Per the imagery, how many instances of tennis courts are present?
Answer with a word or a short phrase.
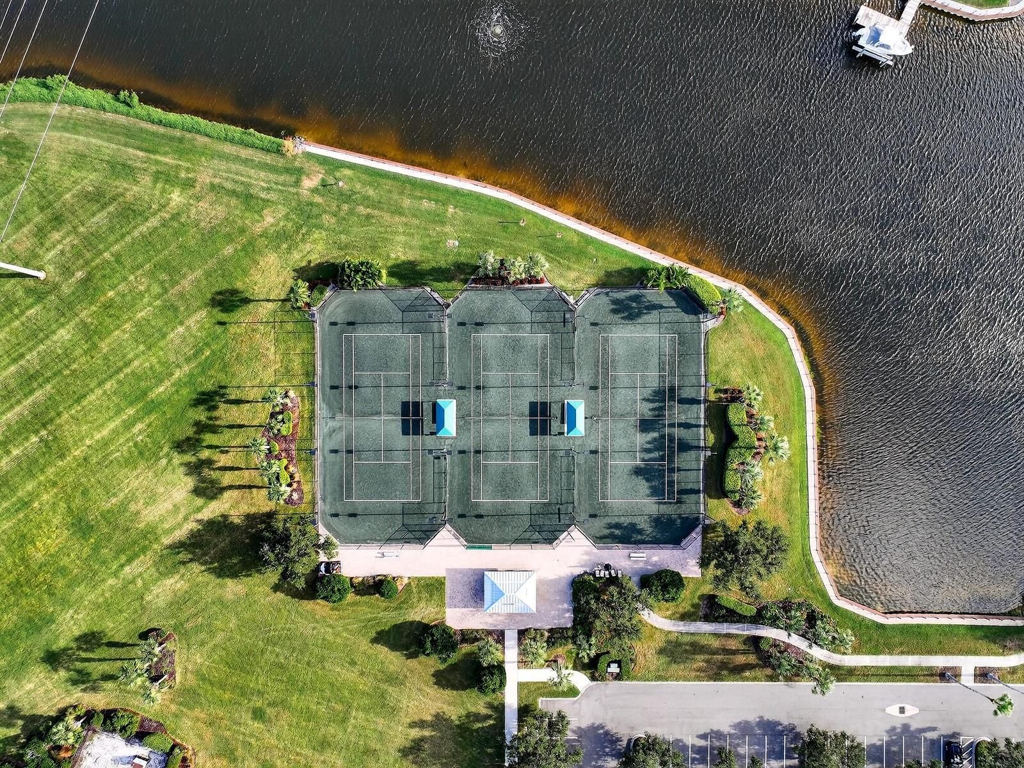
three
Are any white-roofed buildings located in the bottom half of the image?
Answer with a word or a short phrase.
Yes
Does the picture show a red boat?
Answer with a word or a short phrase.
No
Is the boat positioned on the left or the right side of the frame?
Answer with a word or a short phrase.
right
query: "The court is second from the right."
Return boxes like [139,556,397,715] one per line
[446,289,575,545]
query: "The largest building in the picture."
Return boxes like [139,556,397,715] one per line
[484,568,537,614]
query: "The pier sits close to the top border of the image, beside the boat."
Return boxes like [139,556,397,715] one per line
[850,0,923,31]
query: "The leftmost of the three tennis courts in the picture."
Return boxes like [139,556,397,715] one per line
[317,289,447,545]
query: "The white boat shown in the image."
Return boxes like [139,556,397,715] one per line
[856,23,915,54]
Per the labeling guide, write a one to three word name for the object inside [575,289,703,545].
tennis court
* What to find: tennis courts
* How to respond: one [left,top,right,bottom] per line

[575,289,703,545]
[446,289,575,545]
[317,289,447,545]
